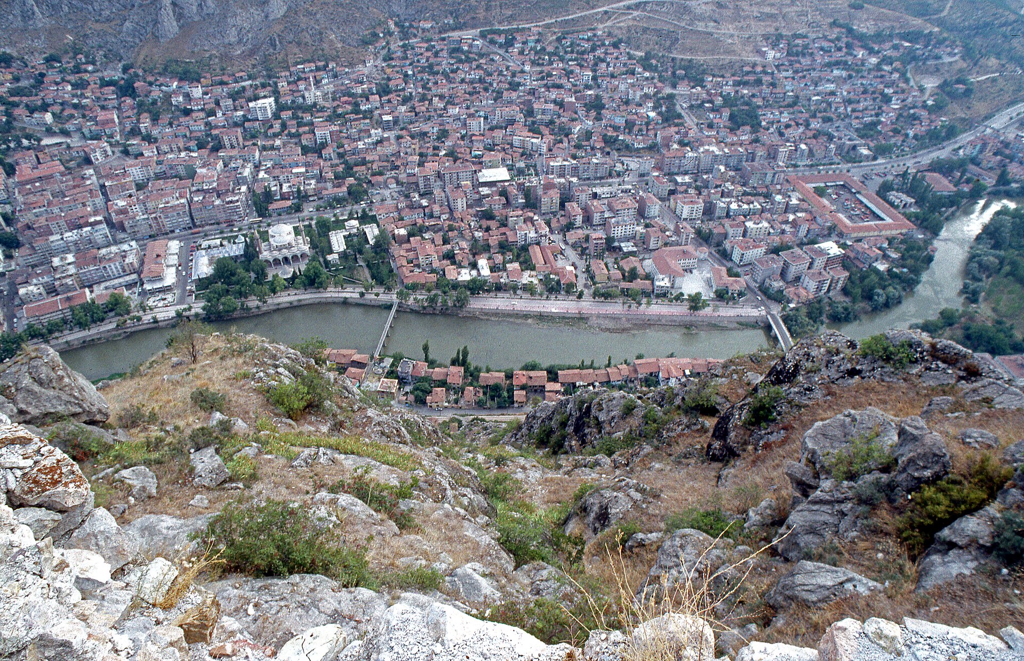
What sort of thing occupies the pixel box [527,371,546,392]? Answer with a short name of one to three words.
house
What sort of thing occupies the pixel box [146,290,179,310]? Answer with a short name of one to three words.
house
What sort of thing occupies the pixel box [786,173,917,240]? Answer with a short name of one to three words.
building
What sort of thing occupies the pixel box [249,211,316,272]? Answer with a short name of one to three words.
building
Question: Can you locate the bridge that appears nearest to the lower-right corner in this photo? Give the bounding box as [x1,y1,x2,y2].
[762,313,789,348]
